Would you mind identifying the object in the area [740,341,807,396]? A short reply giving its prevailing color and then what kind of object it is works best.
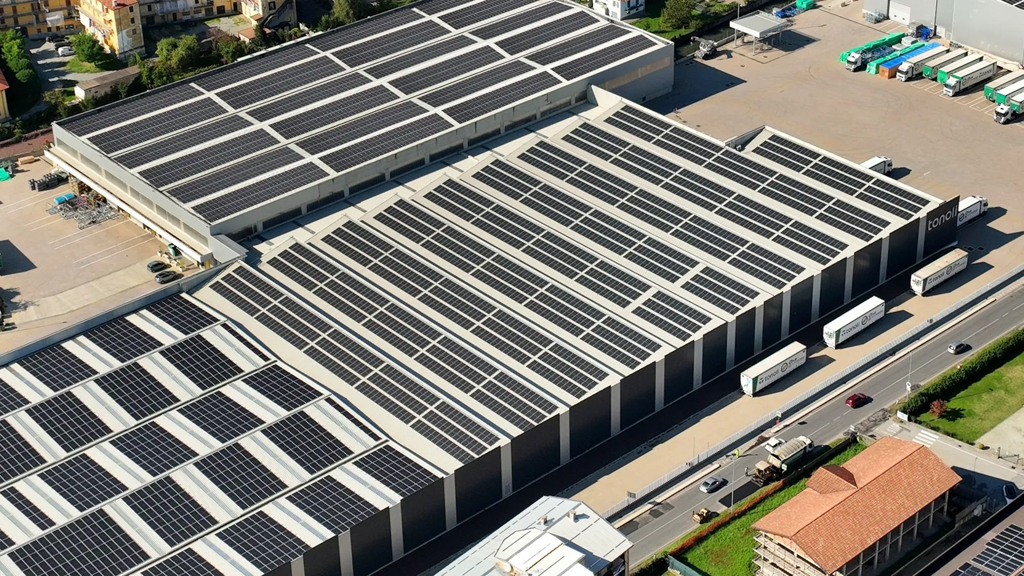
white trailer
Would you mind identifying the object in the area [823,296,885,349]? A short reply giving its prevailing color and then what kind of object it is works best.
white trailer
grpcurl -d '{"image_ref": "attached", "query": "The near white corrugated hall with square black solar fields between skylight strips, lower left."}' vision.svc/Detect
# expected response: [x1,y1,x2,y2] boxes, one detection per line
[0,292,451,576]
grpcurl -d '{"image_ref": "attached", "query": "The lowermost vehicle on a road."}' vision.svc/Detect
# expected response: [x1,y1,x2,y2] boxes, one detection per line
[694,505,714,524]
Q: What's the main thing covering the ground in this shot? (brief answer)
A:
buildings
